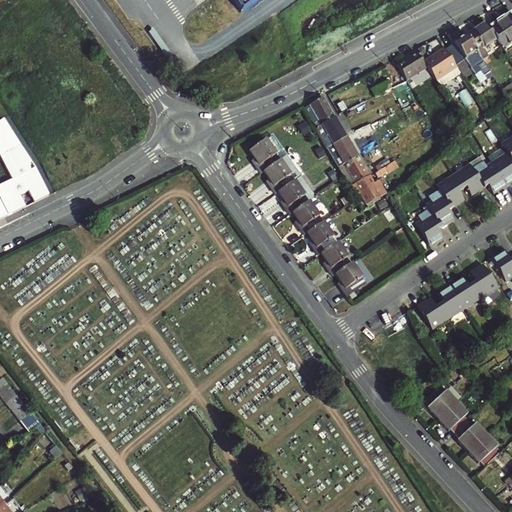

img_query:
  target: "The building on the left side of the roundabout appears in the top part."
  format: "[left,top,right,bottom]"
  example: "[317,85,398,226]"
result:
[0,117,52,224]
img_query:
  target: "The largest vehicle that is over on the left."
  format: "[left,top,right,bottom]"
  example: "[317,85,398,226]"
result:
[147,26,173,54]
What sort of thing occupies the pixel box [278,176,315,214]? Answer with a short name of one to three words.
house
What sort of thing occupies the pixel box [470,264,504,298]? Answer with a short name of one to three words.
house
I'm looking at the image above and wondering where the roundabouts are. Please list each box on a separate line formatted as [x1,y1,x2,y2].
[158,104,208,155]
